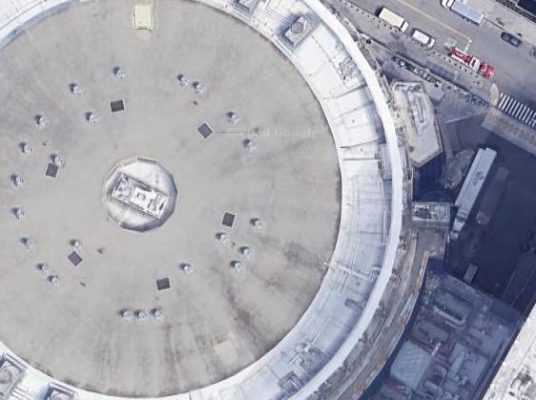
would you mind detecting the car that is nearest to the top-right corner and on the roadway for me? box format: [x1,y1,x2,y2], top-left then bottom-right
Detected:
[501,32,521,47]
